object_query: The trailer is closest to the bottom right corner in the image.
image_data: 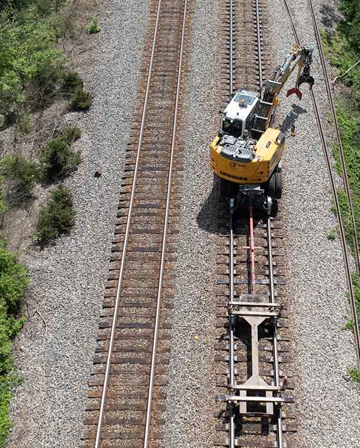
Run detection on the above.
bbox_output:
[226,204,290,422]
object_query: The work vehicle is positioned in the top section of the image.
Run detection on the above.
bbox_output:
[211,44,319,210]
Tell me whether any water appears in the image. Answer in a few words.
No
